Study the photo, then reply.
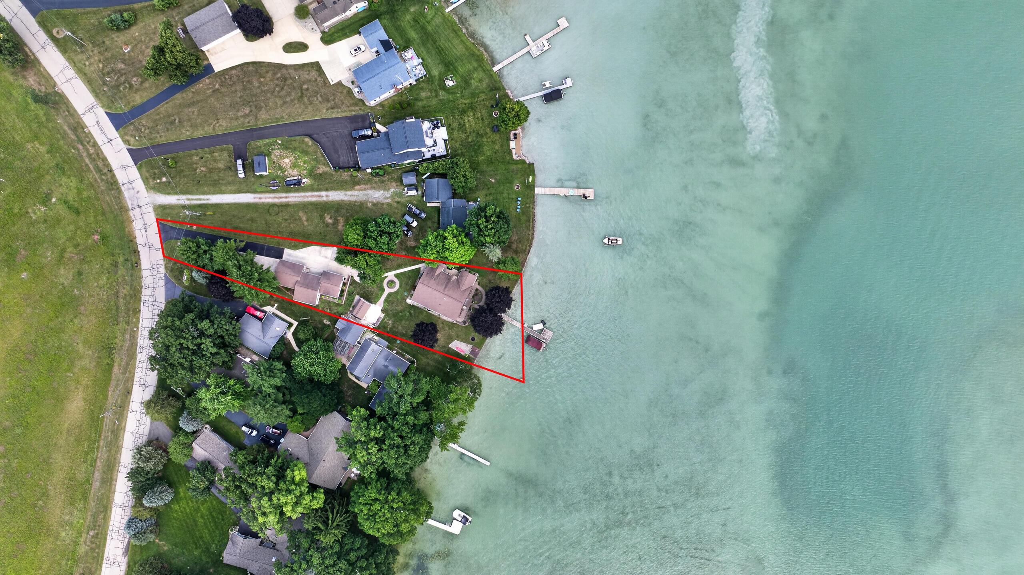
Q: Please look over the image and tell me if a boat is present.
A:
Yes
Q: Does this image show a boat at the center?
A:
Yes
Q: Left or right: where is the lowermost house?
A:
left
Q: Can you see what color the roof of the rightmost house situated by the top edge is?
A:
blue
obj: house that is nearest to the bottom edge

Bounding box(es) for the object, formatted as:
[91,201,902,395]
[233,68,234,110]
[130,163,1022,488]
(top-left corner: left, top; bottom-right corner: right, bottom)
[223,527,291,575]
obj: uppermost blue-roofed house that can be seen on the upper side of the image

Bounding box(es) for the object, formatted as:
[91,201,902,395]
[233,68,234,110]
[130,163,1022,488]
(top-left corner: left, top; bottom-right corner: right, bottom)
[352,19,412,104]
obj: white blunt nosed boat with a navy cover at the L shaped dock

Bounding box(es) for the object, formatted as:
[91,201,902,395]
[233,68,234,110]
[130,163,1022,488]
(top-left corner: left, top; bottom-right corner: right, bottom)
[454,509,472,525]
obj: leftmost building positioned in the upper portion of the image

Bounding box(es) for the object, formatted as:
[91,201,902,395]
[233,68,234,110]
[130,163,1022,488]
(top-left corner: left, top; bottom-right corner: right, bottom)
[183,0,243,52]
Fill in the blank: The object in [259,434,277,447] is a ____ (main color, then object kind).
black vehicle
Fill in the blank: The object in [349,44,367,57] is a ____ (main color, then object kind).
white vehicle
